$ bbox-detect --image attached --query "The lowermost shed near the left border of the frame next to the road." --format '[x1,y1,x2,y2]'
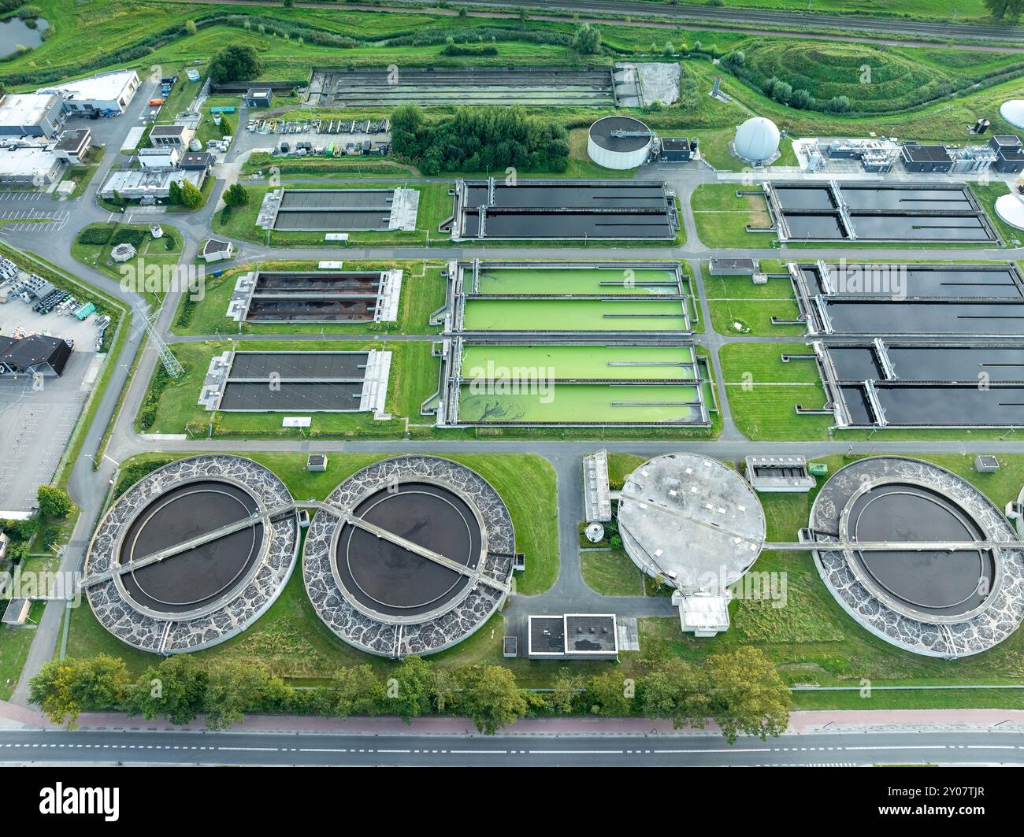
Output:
[1,598,32,625]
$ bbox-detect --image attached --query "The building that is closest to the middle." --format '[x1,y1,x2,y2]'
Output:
[582,448,611,526]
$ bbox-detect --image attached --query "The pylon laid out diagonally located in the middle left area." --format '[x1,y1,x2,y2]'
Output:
[107,291,184,381]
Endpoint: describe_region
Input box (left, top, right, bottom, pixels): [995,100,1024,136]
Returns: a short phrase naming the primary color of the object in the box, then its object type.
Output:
white storage tank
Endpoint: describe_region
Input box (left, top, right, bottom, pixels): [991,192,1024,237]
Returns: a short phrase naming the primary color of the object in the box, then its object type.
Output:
white storage tank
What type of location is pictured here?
industrial area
